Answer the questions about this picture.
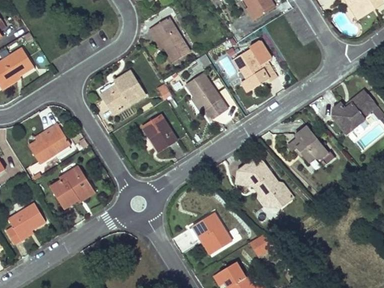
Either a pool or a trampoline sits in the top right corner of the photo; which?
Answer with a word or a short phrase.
pool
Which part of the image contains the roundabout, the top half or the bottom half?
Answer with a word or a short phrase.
bottom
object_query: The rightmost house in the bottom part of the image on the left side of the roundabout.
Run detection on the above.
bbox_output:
[50,166,96,210]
